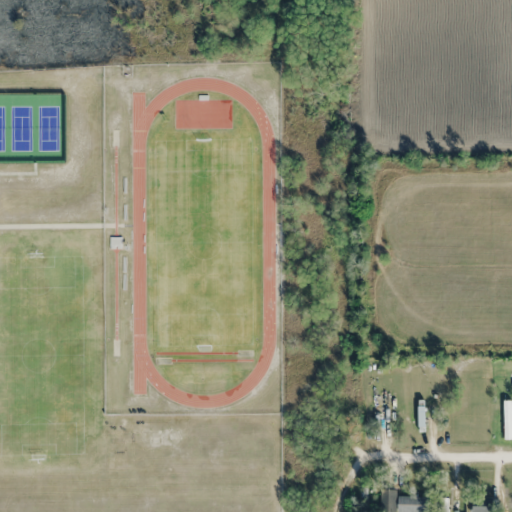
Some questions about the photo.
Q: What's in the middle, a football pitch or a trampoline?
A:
football pitch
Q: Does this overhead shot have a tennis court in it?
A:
Yes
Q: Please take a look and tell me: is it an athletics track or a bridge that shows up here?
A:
athletics track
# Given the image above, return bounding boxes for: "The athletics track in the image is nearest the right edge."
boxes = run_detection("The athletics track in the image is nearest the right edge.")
[134,78,276,408]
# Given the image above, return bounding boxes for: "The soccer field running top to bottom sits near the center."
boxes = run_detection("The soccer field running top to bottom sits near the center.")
[146,90,263,395]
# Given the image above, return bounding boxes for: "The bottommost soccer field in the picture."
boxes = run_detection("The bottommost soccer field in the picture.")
[0,254,86,457]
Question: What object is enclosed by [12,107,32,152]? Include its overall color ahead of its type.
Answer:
blue tennis court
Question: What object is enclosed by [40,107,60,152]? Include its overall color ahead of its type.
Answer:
blue tennis court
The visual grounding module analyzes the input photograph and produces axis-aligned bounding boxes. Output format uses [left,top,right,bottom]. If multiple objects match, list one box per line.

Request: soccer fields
[0,254,86,457]
[146,90,263,395]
